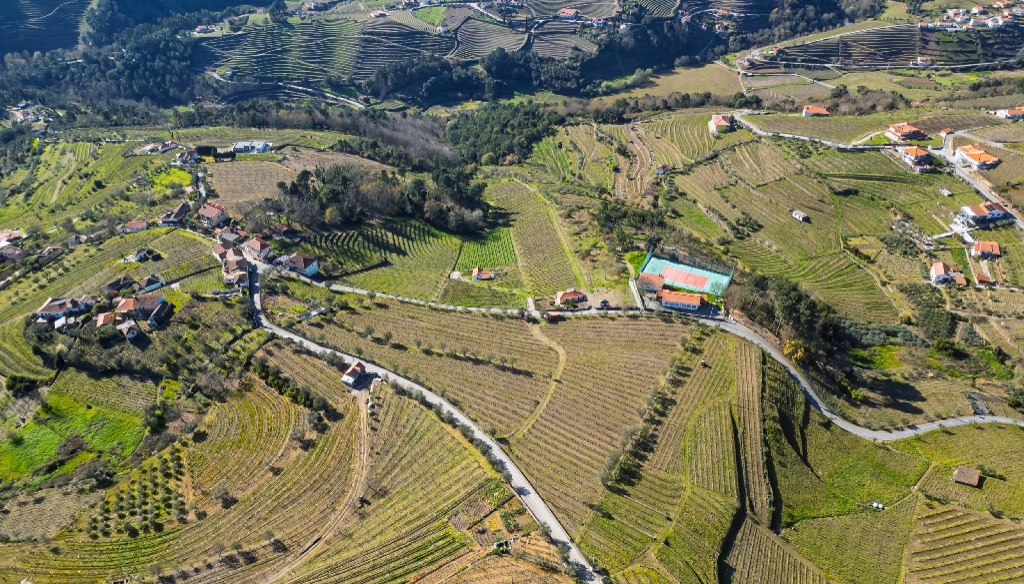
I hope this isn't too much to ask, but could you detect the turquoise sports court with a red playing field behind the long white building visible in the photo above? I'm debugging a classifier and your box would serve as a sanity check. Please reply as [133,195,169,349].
[641,256,729,295]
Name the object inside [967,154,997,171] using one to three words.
house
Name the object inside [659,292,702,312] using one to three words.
building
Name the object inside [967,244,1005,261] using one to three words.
house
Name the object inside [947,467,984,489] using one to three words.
barn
